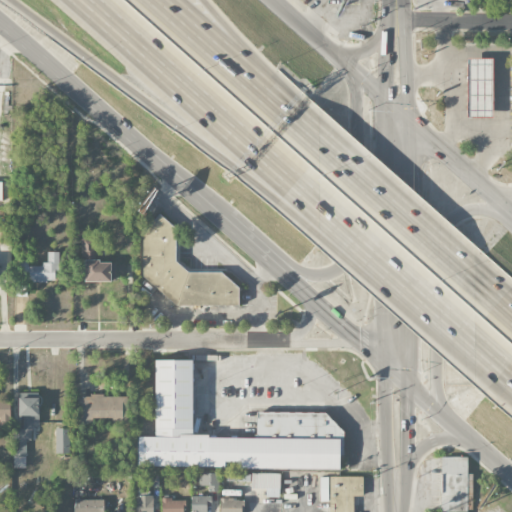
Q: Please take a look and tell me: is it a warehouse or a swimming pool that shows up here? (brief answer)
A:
warehouse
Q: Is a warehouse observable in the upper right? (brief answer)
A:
No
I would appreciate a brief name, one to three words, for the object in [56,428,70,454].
shed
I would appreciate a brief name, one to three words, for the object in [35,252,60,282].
house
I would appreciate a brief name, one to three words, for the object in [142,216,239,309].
building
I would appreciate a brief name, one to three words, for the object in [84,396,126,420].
house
